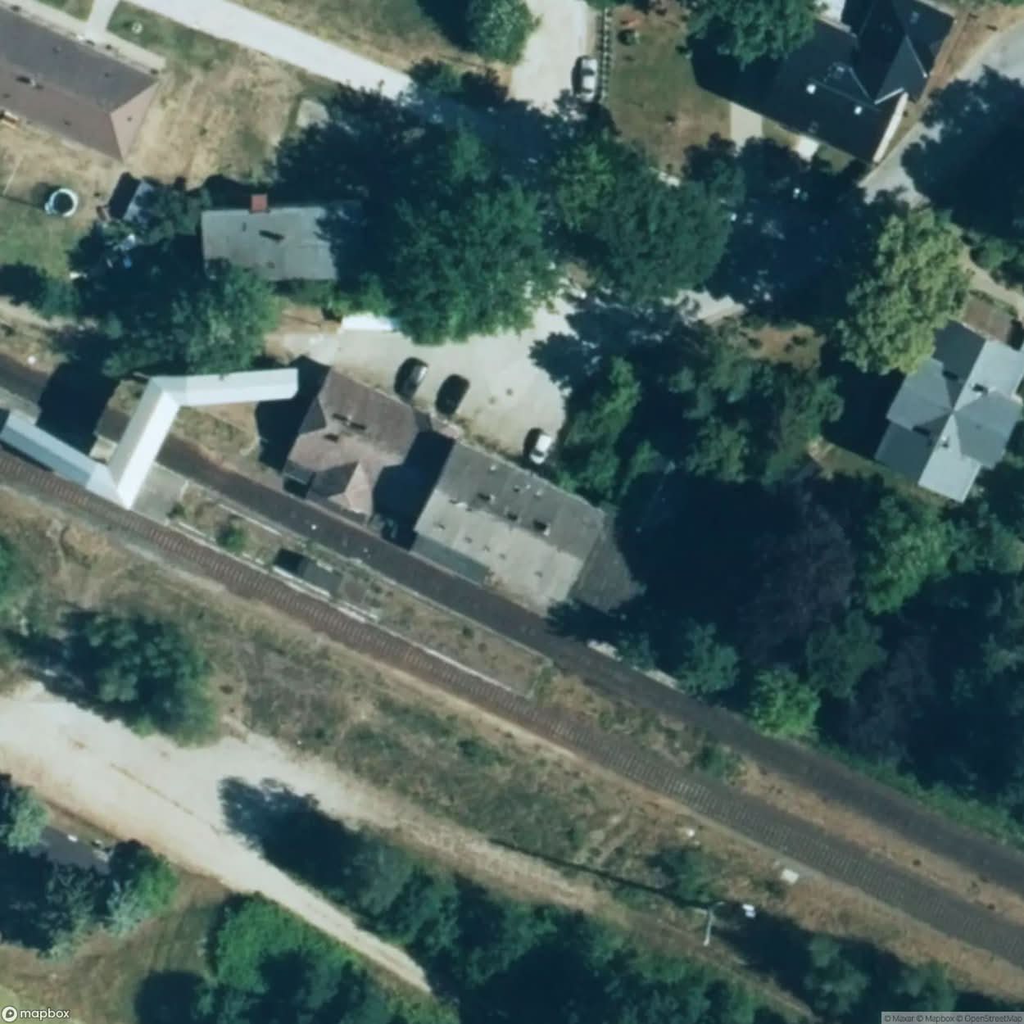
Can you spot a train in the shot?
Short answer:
No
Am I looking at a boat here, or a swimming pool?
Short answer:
swimming pool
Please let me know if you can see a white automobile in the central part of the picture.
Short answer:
Yes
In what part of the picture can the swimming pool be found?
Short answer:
top left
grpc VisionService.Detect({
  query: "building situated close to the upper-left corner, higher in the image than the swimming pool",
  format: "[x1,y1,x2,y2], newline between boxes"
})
[0,4,159,160]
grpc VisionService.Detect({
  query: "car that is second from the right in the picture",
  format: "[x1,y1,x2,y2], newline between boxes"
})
[529,428,555,466]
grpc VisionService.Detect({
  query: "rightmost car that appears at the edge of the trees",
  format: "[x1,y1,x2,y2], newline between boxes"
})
[578,57,597,100]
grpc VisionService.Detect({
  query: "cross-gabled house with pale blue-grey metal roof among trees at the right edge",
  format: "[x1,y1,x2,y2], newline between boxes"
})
[873,324,1024,500]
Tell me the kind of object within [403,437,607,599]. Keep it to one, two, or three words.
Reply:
shed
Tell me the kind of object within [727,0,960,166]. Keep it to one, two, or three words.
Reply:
house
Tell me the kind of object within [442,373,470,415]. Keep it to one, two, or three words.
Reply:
car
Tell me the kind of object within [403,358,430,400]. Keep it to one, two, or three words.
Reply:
car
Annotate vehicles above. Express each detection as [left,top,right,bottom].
[578,57,597,100]
[403,358,430,400]
[529,428,555,466]
[442,373,470,415]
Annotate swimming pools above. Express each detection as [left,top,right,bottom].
[46,186,78,218]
